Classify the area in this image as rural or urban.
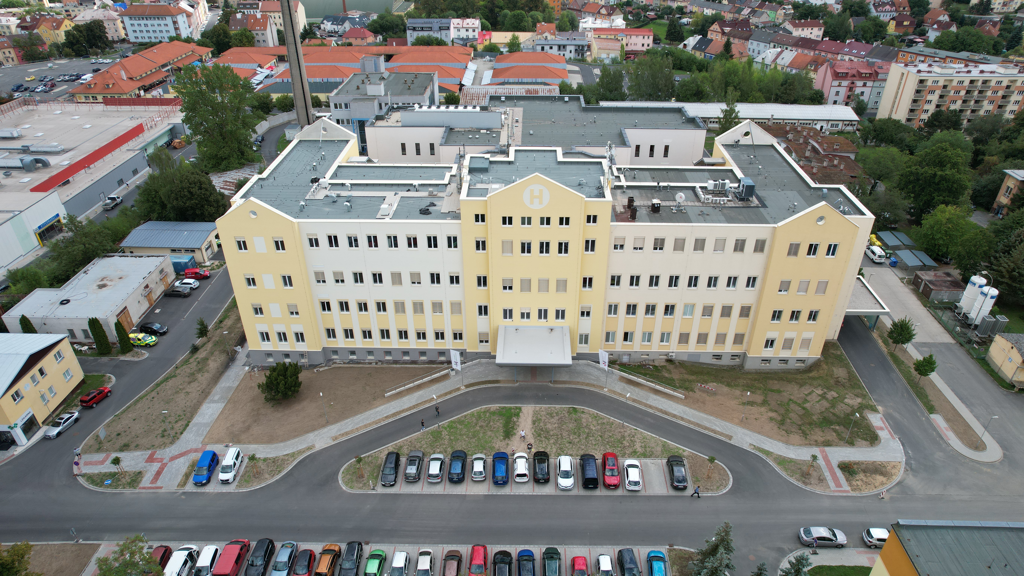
urban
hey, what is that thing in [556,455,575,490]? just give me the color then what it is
white car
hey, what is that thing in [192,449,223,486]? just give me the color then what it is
blue van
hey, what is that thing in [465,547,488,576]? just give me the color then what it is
red car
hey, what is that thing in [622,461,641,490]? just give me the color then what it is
white car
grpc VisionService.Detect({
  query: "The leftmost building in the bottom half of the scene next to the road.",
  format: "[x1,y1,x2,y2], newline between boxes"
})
[0,333,86,467]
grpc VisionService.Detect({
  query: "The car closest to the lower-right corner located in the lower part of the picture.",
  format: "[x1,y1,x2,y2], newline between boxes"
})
[861,526,890,547]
